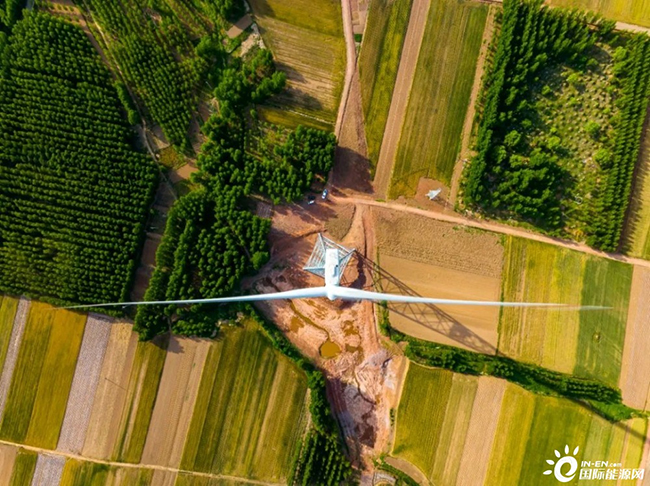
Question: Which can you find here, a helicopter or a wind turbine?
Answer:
wind turbine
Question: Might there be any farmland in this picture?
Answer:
Yes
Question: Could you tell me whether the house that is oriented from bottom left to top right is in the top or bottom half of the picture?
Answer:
top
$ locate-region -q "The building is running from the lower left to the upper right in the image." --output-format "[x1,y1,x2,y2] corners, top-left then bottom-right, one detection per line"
[225,14,253,39]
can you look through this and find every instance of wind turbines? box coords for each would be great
[53,232,611,308]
